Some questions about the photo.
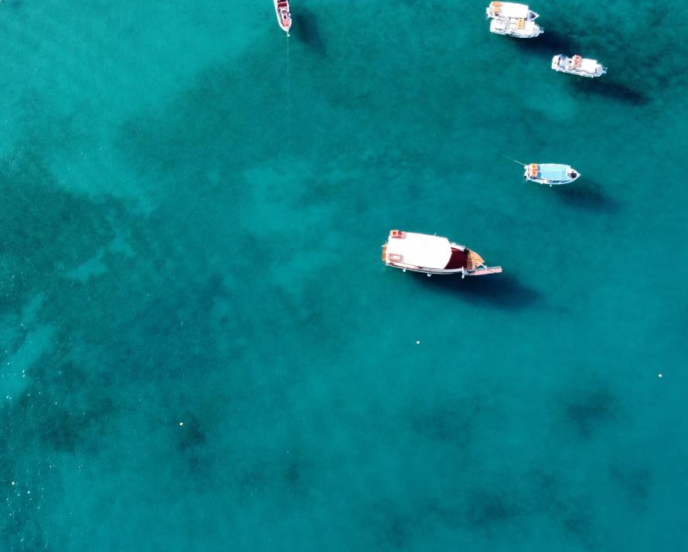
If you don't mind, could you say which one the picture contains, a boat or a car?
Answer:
boat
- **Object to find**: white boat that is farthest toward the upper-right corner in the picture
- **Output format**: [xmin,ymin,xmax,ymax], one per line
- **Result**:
[551,56,609,77]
